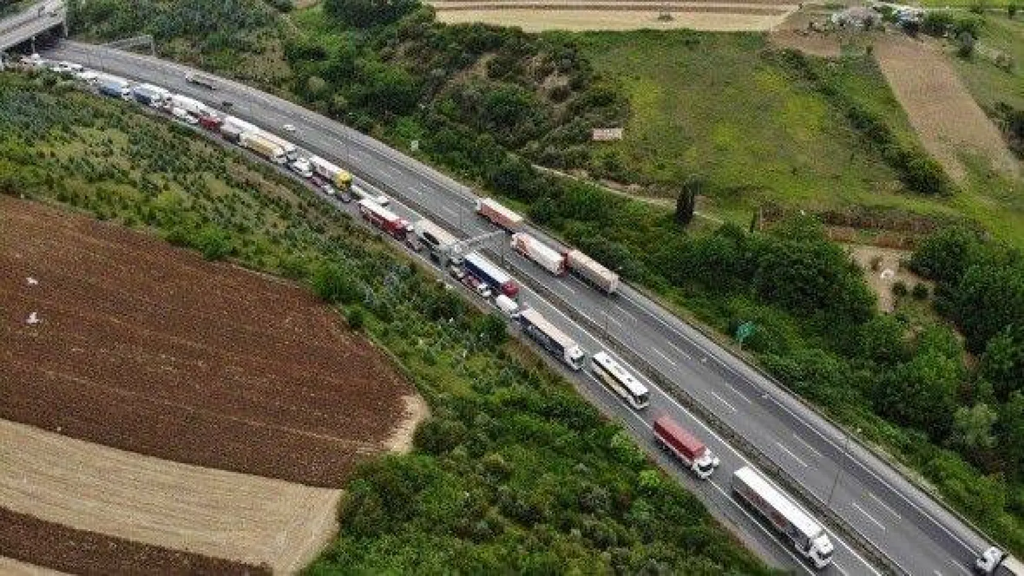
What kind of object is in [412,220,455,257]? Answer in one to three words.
bus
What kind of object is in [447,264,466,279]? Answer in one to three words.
car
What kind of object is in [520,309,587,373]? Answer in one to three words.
truck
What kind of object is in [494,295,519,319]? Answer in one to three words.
vehicle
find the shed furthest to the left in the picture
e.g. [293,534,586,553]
[594,127,622,141]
